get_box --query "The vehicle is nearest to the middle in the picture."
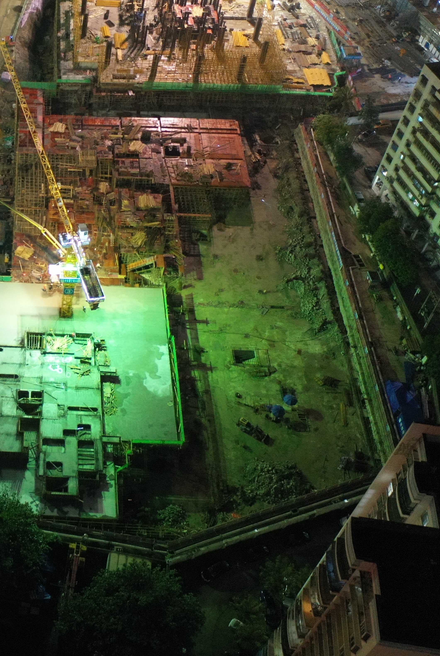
[239,412,282,453]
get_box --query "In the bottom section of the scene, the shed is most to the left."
[106,552,151,582]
